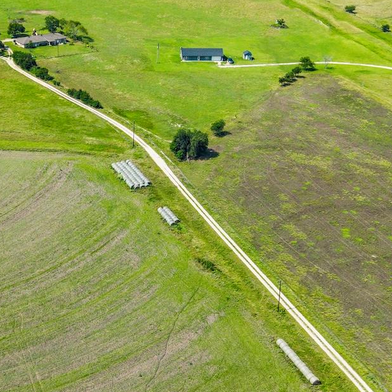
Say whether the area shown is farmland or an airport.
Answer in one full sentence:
The area seen from above is farmland.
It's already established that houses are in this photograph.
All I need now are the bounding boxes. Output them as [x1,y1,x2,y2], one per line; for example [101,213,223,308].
[179,45,223,61]
[16,29,68,48]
